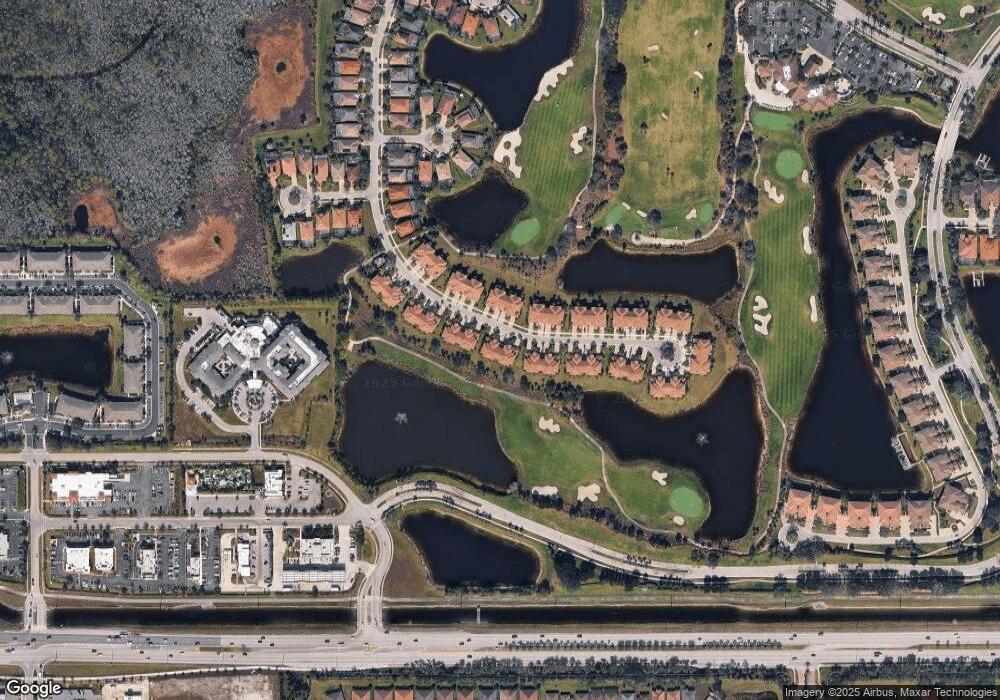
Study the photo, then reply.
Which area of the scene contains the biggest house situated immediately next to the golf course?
left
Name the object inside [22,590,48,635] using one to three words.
bridge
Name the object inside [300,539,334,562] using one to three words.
building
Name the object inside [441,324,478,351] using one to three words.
house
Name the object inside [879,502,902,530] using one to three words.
house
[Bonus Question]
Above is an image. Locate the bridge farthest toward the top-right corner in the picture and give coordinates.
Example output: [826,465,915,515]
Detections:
[931,120,962,181]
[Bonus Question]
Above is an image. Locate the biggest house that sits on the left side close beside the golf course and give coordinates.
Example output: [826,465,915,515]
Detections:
[187,307,329,400]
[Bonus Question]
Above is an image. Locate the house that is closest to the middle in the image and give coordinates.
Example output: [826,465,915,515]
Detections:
[480,340,518,364]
